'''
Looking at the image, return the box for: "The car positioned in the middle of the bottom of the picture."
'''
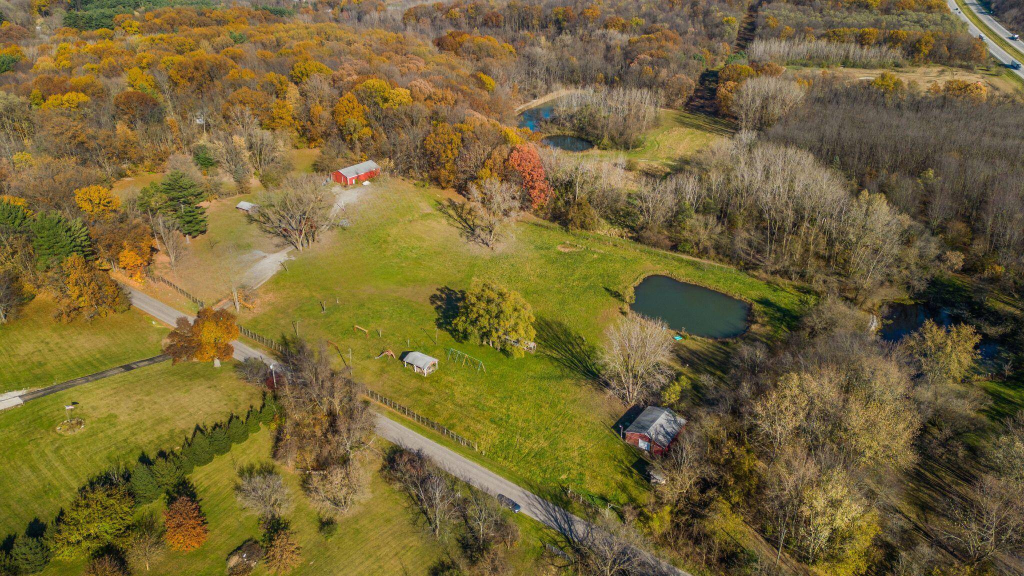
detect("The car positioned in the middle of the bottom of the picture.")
[499,491,521,509]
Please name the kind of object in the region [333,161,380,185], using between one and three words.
barn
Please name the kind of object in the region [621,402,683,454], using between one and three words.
shed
